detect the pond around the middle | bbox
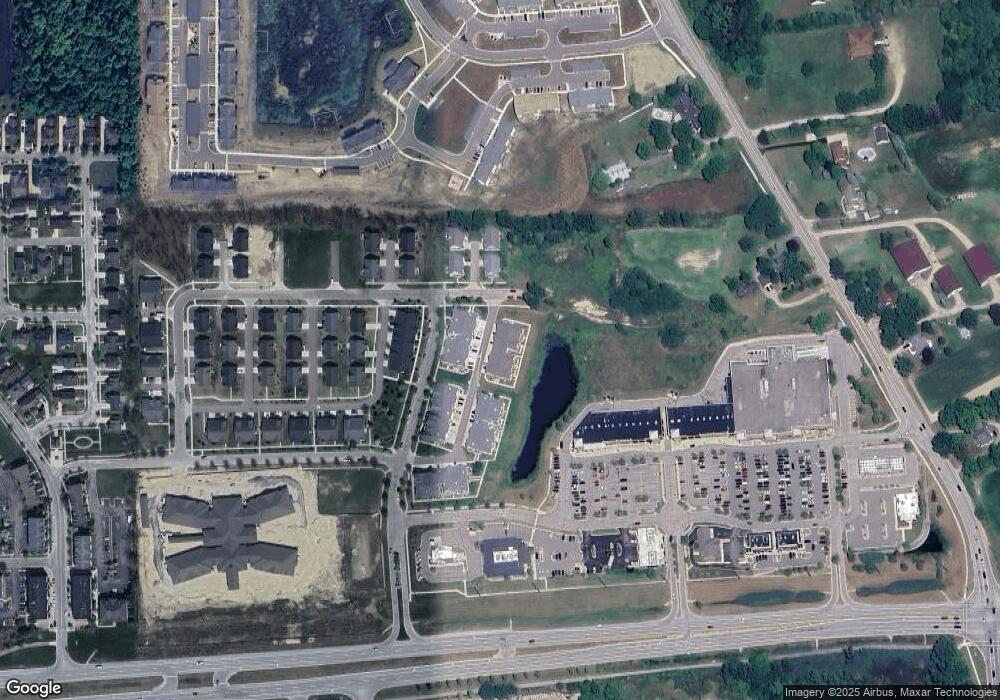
[513,340,577,479]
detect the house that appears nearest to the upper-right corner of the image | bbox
[848,27,876,58]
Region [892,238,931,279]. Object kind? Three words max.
barn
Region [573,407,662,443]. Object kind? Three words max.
building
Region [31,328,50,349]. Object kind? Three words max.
house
